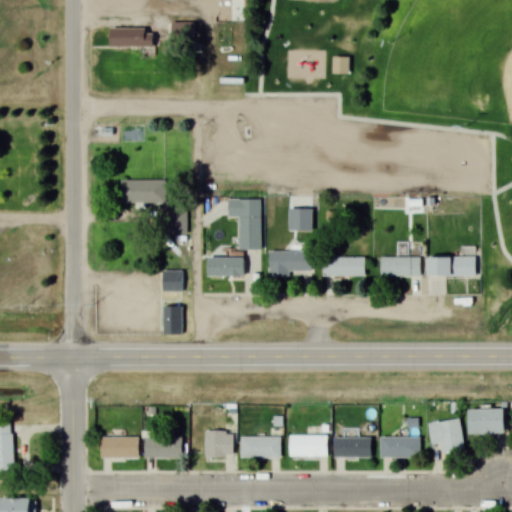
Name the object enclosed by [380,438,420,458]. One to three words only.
house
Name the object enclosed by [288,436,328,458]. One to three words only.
house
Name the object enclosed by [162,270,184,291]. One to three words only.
building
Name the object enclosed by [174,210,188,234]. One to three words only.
building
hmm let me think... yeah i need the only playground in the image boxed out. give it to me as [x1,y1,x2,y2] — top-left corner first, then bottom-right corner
[287,50,327,84]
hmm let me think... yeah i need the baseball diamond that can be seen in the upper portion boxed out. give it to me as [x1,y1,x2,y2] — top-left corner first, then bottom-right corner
[384,0,512,124]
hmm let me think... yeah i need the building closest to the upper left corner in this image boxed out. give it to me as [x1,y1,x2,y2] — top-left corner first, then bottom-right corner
[109,28,153,46]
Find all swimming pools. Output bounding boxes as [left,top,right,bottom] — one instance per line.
[410,428,421,438]
[366,408,378,420]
